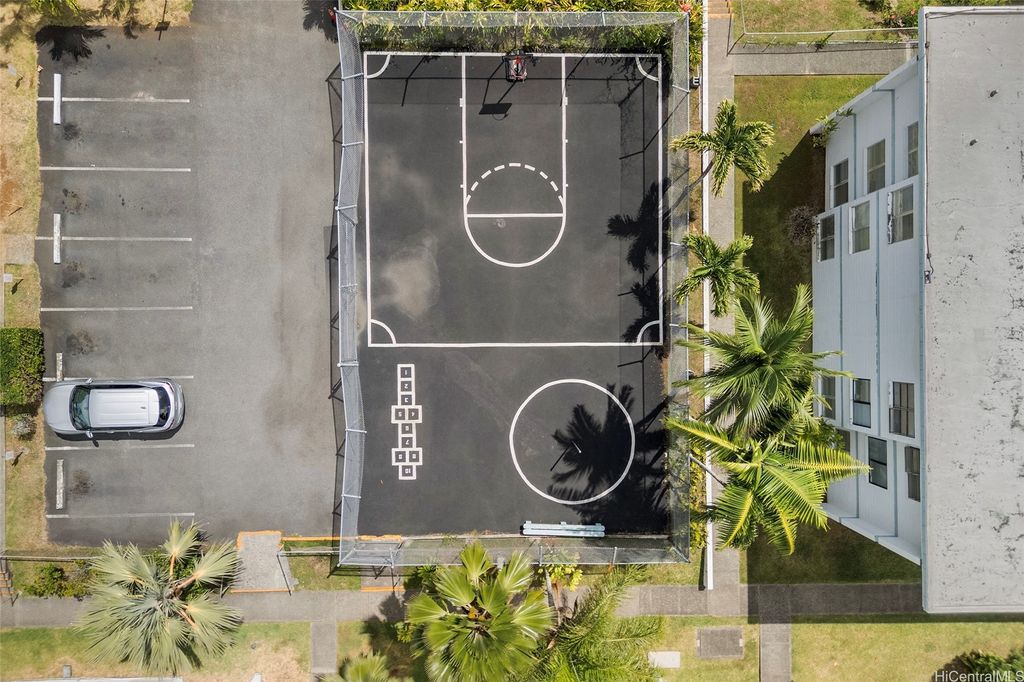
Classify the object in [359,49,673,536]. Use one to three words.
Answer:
basketball court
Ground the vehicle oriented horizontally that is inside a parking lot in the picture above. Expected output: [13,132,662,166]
[43,375,183,439]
